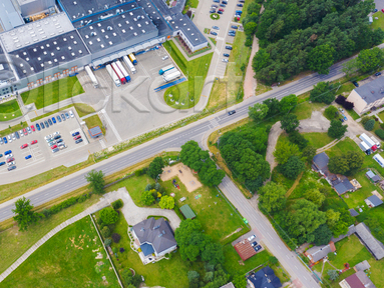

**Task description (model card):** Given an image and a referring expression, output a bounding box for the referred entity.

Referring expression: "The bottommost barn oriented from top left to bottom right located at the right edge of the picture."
[354,222,384,260]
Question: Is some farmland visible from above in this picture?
No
